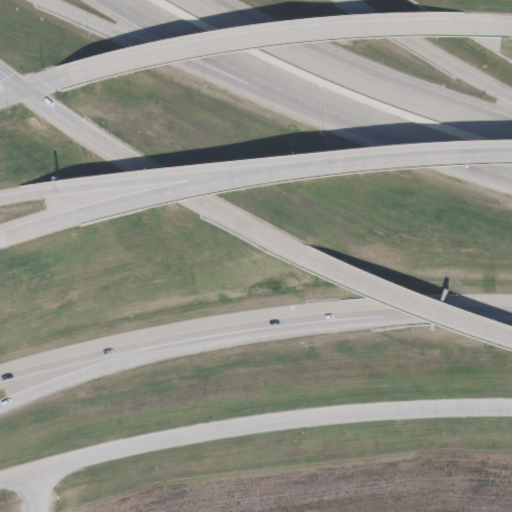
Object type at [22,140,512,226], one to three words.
overpass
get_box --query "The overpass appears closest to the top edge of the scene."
[58,12,470,90]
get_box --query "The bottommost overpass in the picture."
[307,250,512,350]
